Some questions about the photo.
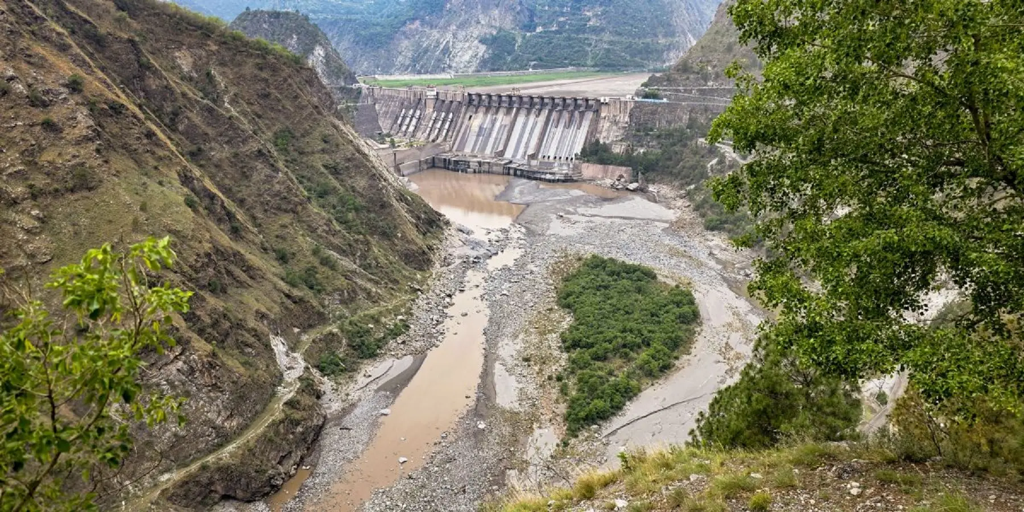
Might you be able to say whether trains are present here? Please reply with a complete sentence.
No, no train can be seen from above.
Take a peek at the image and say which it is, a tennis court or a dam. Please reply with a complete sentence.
There is a dam in the scene.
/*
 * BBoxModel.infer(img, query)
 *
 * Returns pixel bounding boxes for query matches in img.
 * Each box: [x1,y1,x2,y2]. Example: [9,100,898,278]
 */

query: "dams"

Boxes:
[364,86,633,162]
